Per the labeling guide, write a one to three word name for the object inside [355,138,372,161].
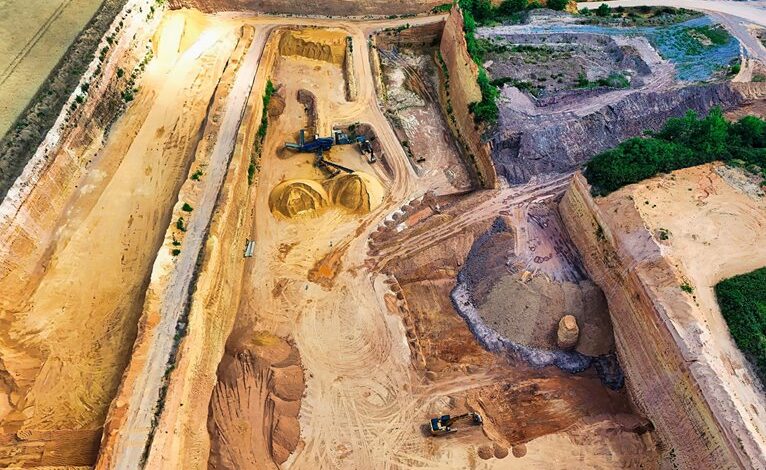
work vehicle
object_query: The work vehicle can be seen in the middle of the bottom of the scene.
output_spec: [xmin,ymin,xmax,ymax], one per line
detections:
[426,414,482,436]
